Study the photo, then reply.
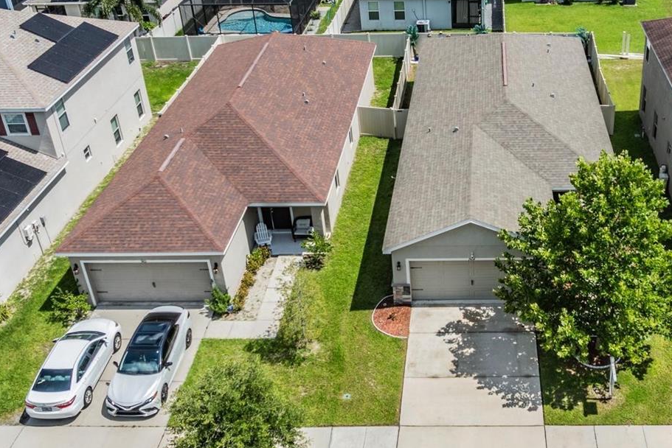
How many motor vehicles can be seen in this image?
2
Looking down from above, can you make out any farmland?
No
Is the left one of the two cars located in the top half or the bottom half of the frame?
bottom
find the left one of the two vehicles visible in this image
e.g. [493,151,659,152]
[18,319,116,418]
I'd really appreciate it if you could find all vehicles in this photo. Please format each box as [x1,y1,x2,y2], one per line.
[18,319,116,418]
[99,311,184,418]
